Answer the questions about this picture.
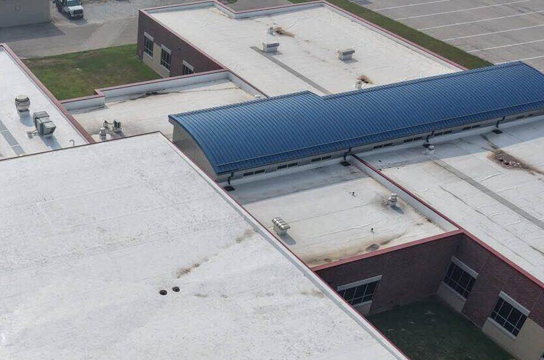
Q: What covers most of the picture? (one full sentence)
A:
The scene is dominated by buildings.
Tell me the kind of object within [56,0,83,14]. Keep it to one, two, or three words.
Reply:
vehicle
